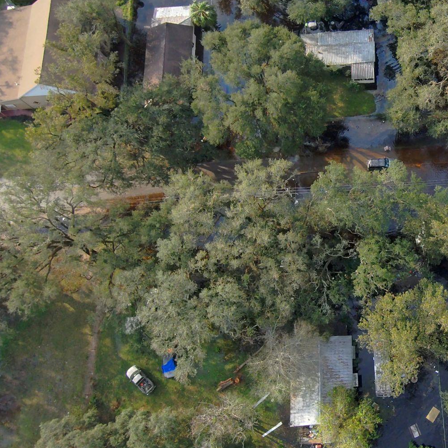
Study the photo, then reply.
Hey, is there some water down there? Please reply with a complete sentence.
Yes, water shows up in the scene.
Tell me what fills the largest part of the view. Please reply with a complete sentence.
The bulk of the photo consists of trees.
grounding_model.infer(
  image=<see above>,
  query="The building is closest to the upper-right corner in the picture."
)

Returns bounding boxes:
[300,29,375,84]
